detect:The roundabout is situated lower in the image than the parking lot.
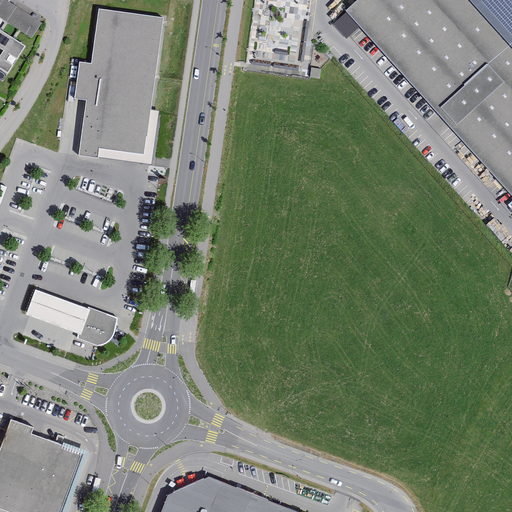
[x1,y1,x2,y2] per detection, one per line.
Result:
[106,364,190,448]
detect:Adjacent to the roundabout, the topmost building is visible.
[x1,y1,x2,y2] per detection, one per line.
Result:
[24,290,117,346]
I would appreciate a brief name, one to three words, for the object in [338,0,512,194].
building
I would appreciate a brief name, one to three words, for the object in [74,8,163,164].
building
